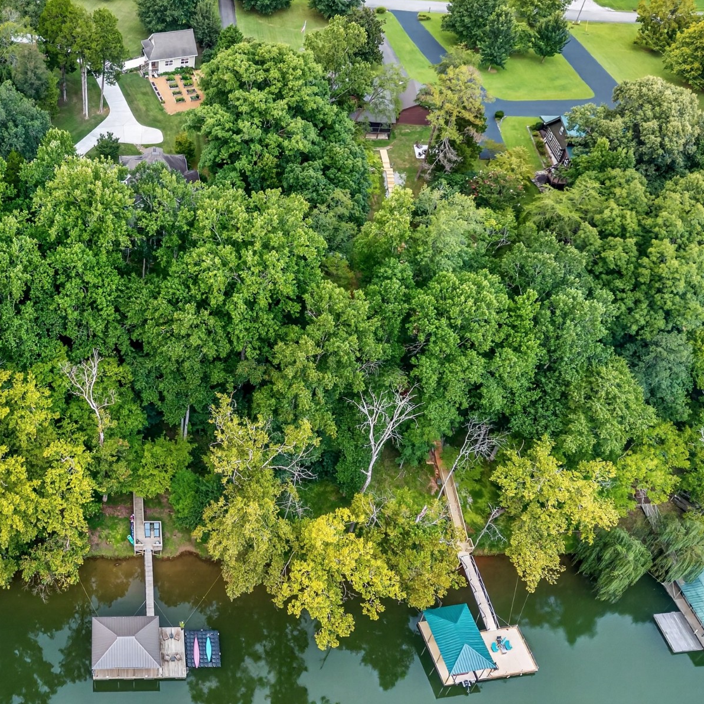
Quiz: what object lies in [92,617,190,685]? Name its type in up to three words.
pier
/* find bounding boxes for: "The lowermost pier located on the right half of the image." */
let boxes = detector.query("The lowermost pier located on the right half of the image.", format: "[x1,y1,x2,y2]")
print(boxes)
[421,604,541,685]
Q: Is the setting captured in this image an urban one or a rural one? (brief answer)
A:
rural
